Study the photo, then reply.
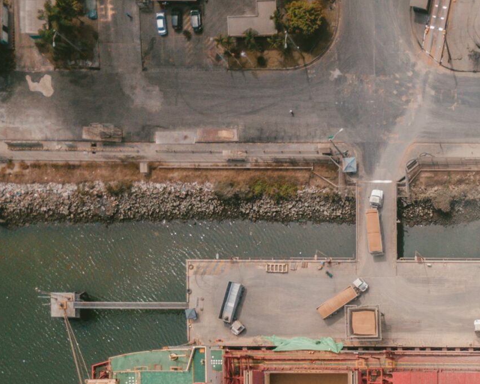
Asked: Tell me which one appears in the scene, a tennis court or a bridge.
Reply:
bridge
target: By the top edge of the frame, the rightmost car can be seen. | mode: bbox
[191,10,203,34]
